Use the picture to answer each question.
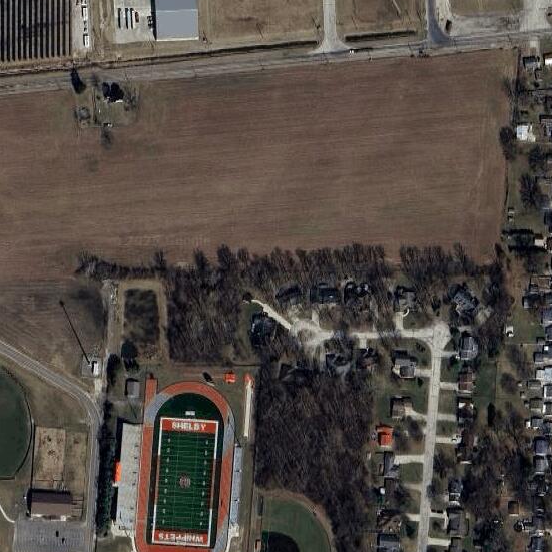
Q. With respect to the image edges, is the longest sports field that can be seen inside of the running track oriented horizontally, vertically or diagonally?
vertically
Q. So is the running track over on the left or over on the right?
left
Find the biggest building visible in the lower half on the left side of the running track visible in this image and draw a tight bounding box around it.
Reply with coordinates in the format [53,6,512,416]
[30,488,72,517]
